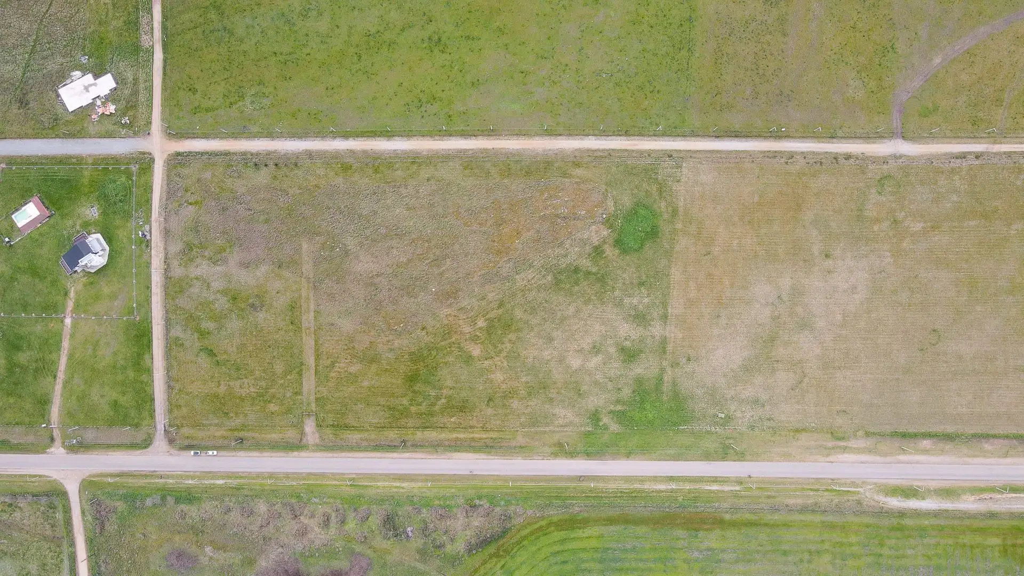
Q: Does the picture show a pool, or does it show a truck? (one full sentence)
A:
The one in the frame is a pool.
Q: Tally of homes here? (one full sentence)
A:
There are 2 homes in the image.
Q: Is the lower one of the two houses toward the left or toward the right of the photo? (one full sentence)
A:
It is on the left.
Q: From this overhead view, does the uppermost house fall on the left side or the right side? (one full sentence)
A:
The uppermost house sits on the left side.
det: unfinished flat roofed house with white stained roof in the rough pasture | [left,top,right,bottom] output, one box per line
[58,74,120,113]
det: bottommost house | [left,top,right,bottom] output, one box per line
[60,232,109,275]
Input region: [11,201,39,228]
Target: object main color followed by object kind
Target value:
white swimming pool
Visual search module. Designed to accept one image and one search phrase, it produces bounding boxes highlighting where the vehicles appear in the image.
[207,451,216,456]
[190,451,200,456]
